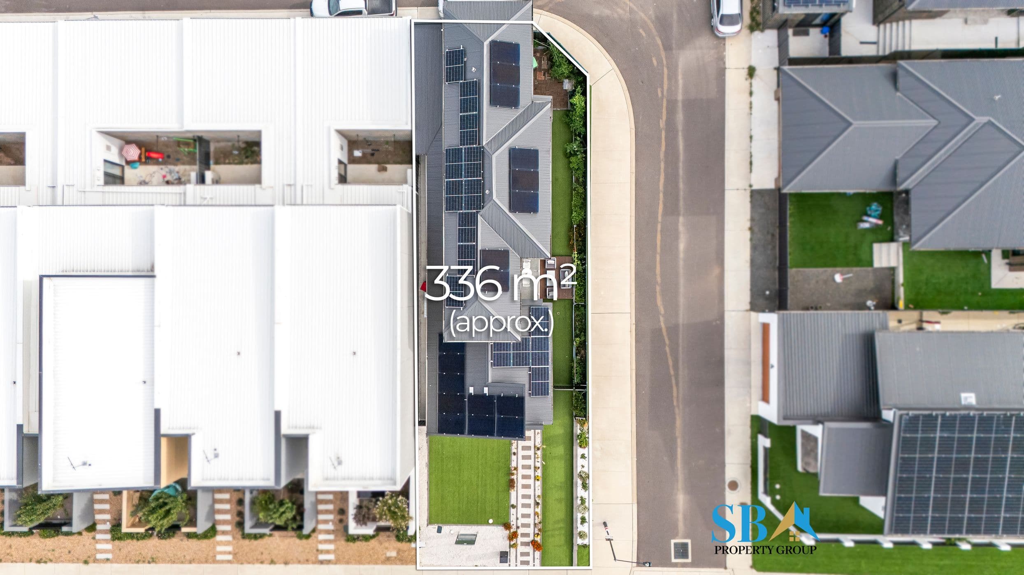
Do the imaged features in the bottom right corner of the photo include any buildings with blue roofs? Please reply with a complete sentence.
No, no building with a blue roof can be made out in the bottom right corner of the photo.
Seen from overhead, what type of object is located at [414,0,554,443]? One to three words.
house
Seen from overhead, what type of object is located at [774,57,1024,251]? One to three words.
house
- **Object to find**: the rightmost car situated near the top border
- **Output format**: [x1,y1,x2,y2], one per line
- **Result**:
[707,0,742,43]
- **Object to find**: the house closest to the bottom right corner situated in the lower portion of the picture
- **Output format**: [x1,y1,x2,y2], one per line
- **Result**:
[762,311,1024,539]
